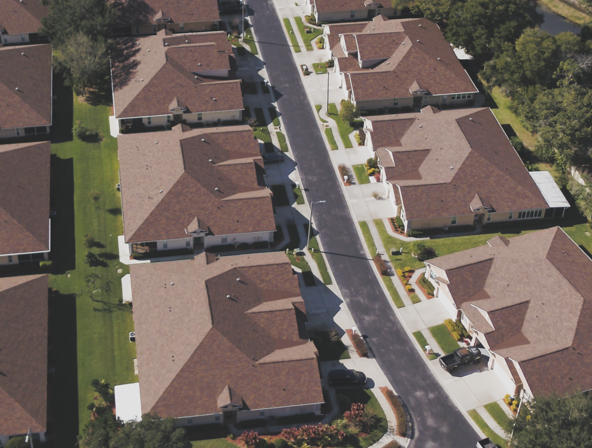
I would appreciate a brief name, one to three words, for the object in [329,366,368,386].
car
